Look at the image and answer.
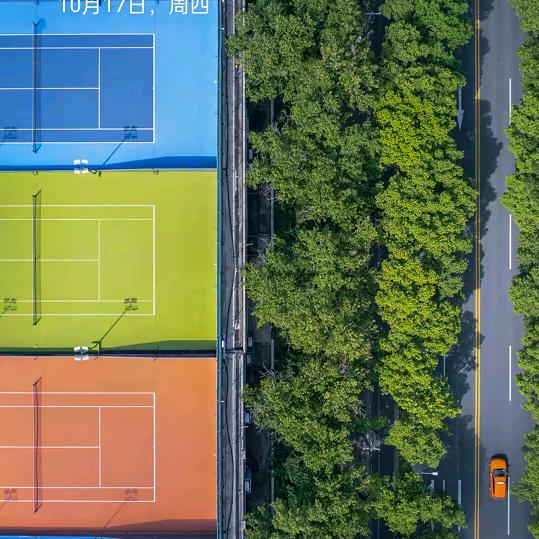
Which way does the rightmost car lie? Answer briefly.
from top to bottom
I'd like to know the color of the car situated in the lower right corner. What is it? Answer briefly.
orange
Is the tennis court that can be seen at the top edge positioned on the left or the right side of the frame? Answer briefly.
left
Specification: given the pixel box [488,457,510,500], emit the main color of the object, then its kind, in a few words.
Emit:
orange car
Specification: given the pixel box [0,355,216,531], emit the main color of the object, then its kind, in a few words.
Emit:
orange tennis court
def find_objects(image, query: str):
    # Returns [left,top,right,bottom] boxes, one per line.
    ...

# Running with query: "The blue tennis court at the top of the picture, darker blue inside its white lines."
[0,1,216,170]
